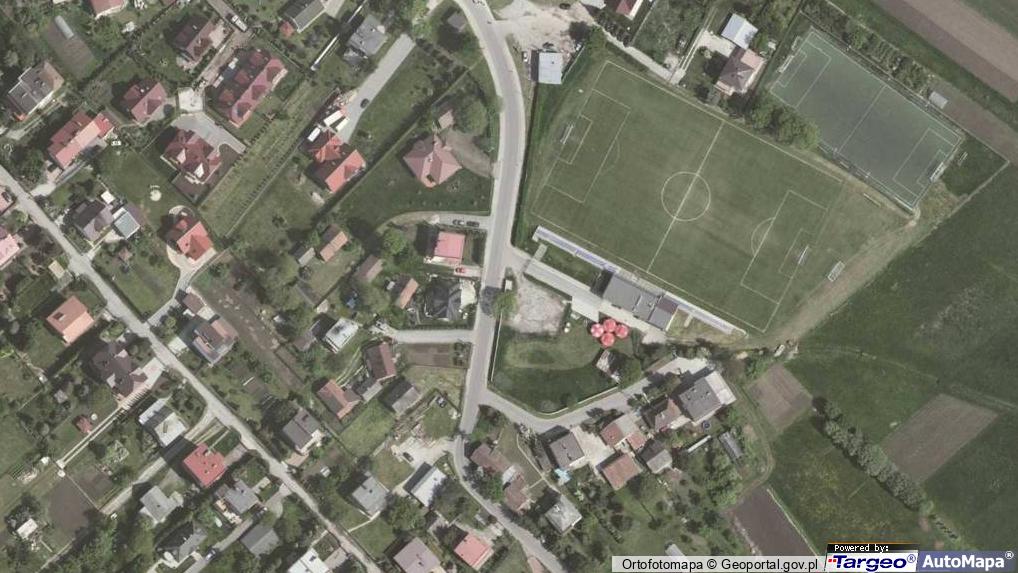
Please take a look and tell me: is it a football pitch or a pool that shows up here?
football pitch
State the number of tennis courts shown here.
0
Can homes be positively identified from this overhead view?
Yes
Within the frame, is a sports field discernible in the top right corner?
Yes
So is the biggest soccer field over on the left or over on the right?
right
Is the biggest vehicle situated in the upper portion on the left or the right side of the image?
left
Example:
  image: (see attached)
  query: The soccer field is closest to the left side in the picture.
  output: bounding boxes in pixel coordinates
[528,58,844,336]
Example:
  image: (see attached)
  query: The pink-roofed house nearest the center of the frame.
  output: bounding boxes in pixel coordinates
[438,233,466,261]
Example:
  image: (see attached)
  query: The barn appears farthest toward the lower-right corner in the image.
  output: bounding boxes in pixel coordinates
[719,431,745,463]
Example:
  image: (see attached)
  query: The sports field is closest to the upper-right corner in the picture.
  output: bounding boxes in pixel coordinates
[767,24,962,205]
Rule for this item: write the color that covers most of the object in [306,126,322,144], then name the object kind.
white vehicle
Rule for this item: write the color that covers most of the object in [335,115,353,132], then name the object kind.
white vehicle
